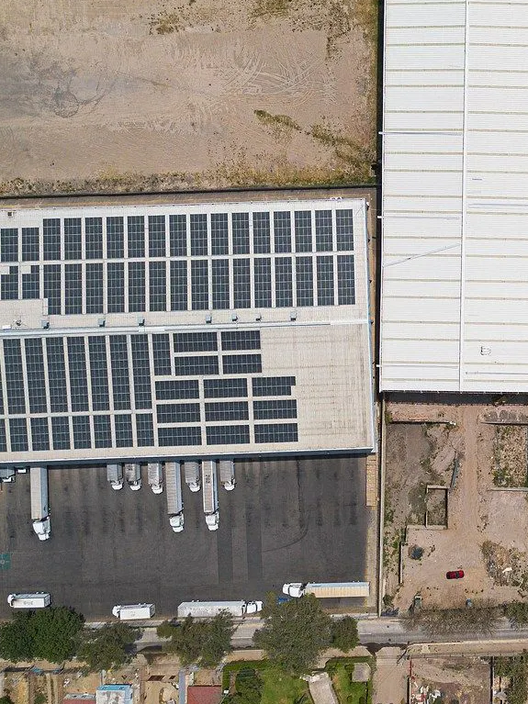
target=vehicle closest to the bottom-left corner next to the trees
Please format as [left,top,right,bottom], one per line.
[4,593,51,609]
